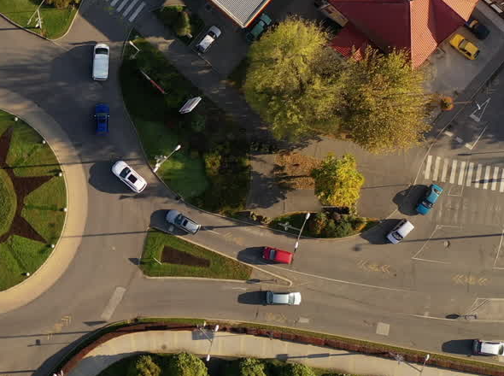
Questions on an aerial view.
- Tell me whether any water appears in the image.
No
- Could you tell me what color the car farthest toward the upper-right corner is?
black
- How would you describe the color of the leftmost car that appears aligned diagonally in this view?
white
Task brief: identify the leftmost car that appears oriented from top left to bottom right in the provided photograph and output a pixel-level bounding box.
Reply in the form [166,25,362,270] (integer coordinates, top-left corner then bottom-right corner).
[112,161,148,193]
